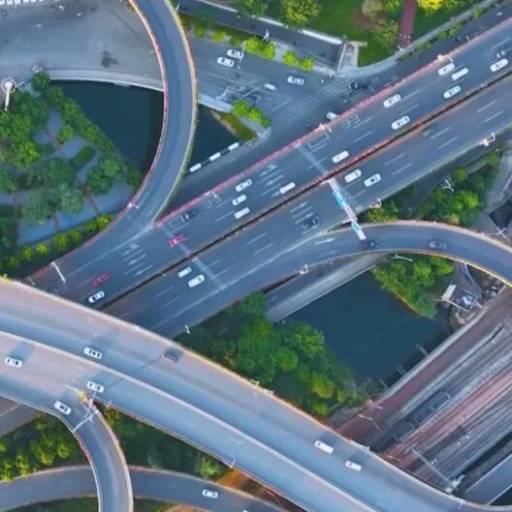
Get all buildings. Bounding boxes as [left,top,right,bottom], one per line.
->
[440,283,476,313]
[480,193,512,243]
